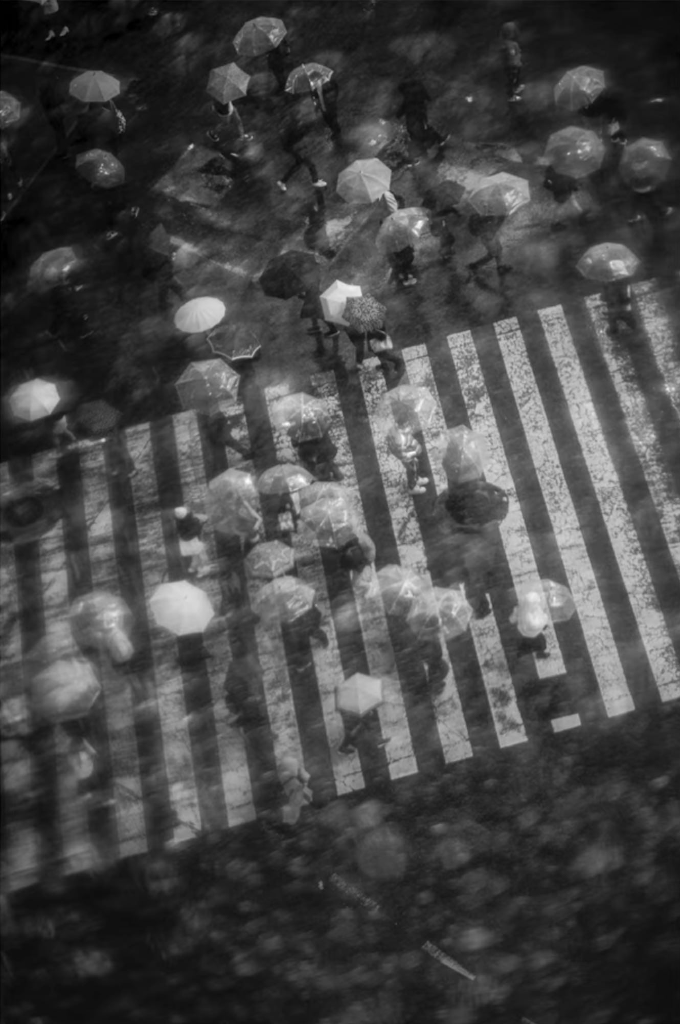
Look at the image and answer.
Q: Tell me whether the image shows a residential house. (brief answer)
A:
No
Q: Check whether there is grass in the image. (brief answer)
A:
No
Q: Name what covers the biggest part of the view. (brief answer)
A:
paved ground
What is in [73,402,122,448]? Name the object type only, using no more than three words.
umbrella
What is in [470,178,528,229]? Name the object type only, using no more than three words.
umbrella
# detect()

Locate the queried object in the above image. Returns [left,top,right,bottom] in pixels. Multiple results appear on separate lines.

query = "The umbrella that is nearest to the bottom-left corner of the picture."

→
[32,660,100,724]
